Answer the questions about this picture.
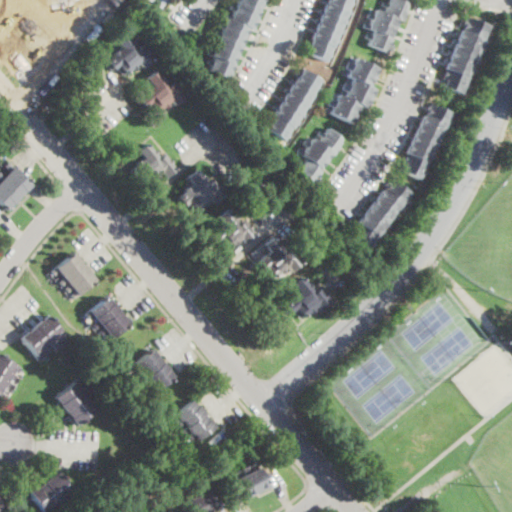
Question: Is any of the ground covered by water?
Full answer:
No, no water is visible.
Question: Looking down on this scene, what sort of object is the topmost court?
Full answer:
In the photo, the topmost court shows up as a tennis court.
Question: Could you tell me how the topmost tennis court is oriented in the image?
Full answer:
The topmost tennis court has been laid out diagonally relative to the frame.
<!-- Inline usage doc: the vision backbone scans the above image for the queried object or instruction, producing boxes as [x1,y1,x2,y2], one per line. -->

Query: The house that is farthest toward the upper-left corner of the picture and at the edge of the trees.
[112,43,144,74]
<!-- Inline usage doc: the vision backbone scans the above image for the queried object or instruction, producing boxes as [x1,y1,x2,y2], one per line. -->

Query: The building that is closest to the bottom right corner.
[242,466,274,500]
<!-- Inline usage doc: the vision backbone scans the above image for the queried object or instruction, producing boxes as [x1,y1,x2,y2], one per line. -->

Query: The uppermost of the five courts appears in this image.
[402,302,452,350]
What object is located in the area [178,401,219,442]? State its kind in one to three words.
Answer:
house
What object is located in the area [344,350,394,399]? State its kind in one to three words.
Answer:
tennis court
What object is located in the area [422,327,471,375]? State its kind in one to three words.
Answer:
tennis court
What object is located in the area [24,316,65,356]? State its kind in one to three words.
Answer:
house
